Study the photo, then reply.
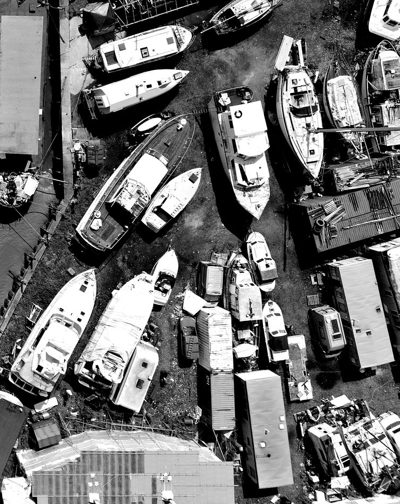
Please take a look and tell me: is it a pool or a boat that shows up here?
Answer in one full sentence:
Looking from above, you can make out a boat.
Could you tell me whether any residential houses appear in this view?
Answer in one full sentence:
Yes, I can see a residential house in this picture.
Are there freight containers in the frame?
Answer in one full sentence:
Yes, a freight container appears in the view.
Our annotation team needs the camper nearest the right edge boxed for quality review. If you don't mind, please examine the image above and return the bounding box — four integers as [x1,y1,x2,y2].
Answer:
[301,302,346,358]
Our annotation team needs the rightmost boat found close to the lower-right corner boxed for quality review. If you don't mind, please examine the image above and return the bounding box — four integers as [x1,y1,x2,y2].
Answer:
[374,409,400,469]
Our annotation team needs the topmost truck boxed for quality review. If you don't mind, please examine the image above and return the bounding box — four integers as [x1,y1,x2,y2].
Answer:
[193,258,223,306]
